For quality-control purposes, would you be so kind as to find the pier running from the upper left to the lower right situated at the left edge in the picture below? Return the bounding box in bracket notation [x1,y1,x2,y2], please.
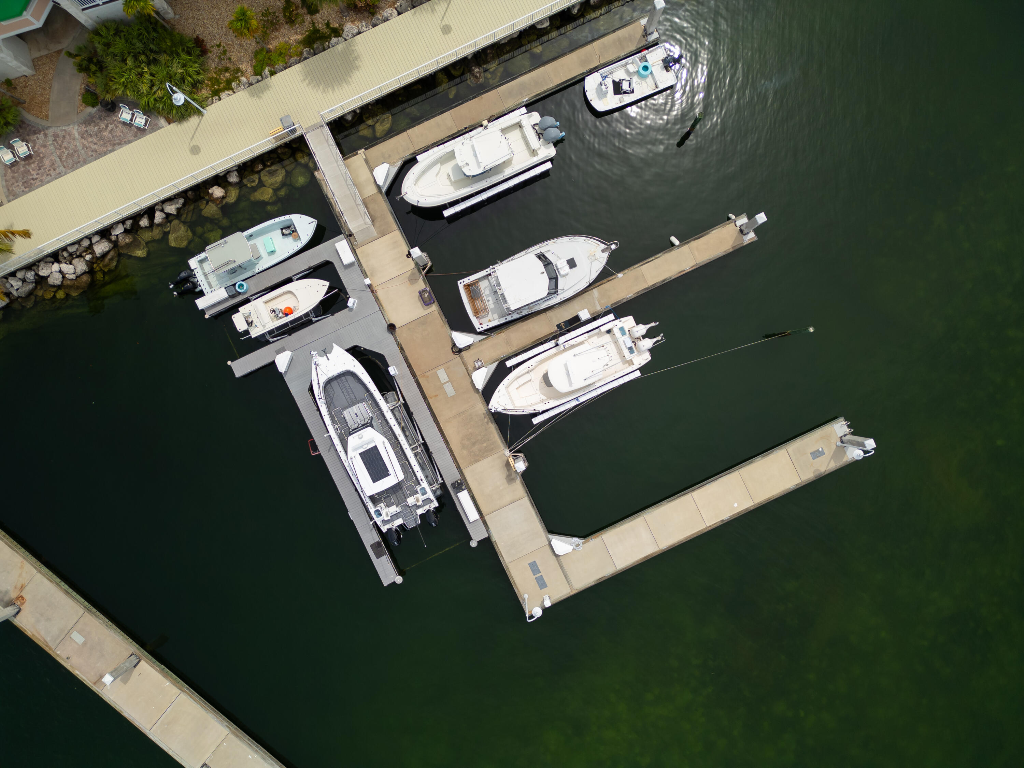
[0,525,292,768]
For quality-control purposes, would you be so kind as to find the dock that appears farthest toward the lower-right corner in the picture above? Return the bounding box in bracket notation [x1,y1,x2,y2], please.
[560,416,857,593]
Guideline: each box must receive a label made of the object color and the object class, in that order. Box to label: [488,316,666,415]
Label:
white boat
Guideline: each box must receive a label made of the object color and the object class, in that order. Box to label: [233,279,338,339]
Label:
white boat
